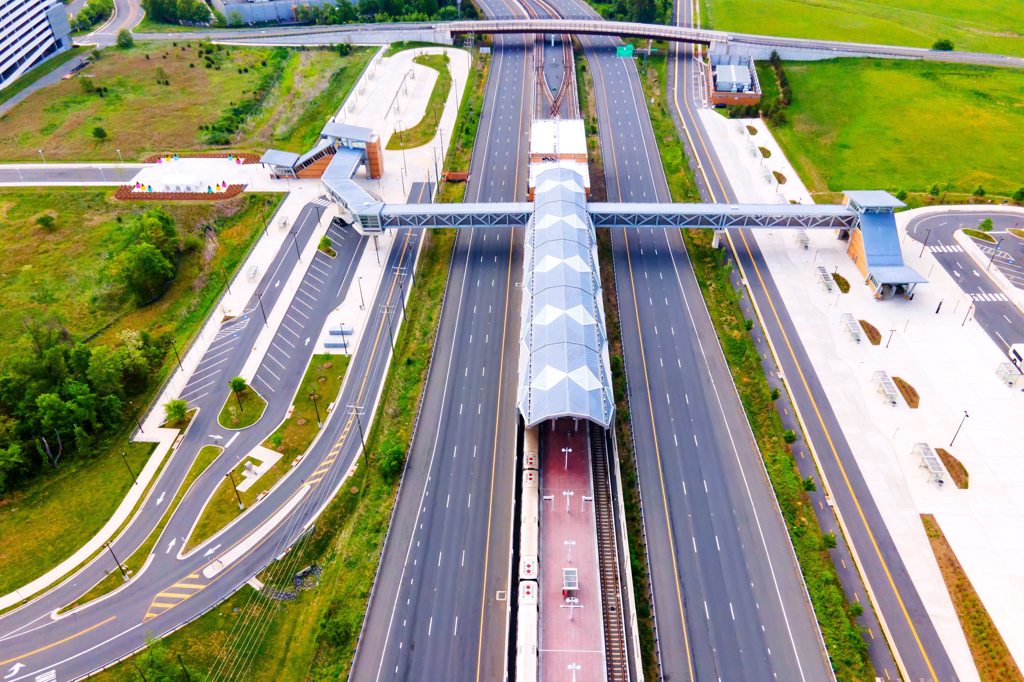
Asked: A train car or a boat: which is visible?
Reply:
train car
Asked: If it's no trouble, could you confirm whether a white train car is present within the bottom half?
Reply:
Yes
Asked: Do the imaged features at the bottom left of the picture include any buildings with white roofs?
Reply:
No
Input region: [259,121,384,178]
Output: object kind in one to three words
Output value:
building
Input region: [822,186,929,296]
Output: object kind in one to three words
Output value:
building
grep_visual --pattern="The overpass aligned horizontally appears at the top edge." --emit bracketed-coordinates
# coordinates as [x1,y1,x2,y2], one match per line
[448,15,720,58]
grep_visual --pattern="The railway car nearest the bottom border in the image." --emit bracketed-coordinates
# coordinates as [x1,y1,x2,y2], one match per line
[515,582,538,682]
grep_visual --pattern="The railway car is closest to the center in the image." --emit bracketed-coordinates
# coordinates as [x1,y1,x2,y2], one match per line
[522,422,540,477]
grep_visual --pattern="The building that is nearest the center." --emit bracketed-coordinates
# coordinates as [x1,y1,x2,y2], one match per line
[529,116,590,180]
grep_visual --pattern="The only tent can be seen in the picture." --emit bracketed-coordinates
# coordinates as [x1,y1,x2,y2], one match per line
[160,176,206,191]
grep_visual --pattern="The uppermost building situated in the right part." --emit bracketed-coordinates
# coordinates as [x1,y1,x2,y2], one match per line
[709,54,763,105]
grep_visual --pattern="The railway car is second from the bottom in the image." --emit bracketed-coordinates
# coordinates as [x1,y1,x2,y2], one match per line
[519,471,539,589]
